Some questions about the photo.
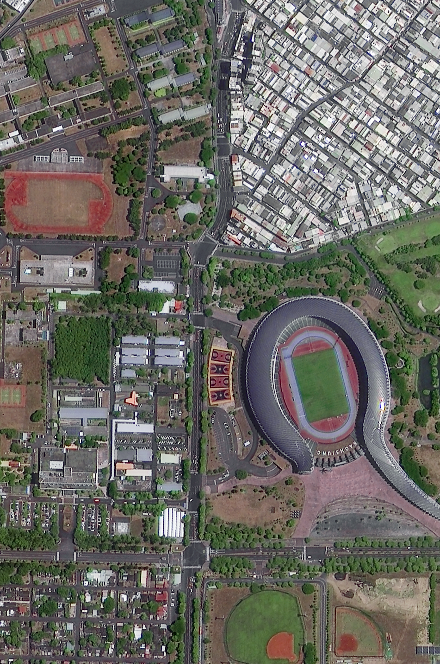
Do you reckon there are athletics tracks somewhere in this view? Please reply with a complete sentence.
Yes, there's an athletics track down there.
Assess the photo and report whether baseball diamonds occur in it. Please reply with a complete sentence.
Yes, there is a baseball diamond in the image.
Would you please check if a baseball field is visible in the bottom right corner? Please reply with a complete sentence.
Yes, there is a baseball field in the bottom right corner.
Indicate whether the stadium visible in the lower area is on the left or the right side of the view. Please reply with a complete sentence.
It is on the right.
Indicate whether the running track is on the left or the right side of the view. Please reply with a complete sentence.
The running track is on the left side of the image.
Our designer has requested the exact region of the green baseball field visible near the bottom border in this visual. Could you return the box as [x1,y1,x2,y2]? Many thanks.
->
[225,590,305,664]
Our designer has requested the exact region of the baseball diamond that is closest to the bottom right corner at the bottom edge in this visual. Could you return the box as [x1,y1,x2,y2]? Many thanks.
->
[335,606,385,657]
